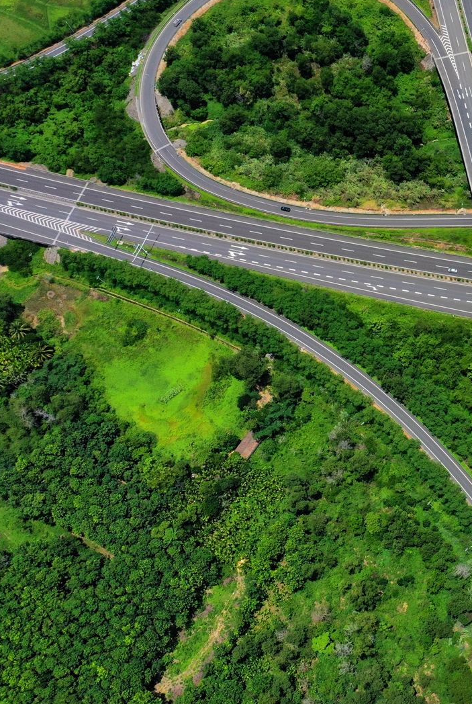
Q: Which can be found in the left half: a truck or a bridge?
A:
bridge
